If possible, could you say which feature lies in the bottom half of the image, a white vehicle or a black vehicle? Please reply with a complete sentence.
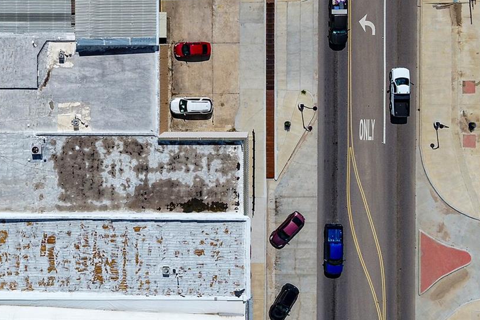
The one visible in the bottom half of the image is a black vehicle.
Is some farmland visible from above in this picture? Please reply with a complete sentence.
No, the picture contains no farmland.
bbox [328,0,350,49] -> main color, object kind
black truck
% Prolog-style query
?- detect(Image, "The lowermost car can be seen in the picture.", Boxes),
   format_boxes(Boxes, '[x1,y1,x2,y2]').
[268,280,300,320]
